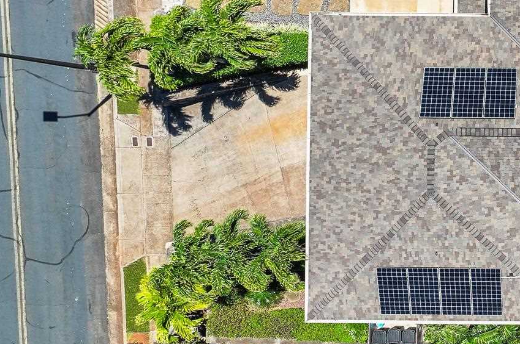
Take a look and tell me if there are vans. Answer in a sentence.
No, there is no van in the image.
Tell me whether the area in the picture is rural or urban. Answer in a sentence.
The area shown here is urban.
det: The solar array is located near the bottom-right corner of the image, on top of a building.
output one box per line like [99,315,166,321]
[377,268,503,315]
